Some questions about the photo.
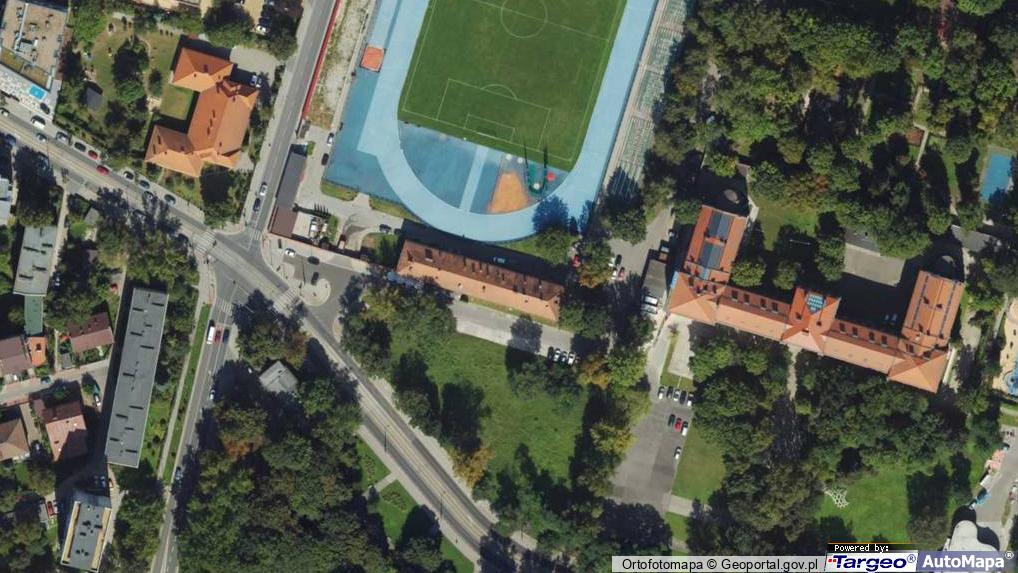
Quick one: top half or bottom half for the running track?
top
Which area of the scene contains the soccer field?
top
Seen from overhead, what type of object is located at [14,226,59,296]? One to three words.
building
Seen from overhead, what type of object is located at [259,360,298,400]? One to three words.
house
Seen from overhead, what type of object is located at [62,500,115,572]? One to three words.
building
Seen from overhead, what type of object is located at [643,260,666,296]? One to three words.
shed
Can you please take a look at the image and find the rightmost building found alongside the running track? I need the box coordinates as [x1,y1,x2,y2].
[668,207,965,393]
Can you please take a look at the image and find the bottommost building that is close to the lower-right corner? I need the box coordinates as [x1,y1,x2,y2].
[947,519,1003,573]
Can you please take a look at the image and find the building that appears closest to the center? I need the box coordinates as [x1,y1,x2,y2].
[398,240,564,320]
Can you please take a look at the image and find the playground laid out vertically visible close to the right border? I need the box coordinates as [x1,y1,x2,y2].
[993,303,1018,397]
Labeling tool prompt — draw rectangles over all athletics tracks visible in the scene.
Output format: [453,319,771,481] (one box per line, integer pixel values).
[322,0,655,244]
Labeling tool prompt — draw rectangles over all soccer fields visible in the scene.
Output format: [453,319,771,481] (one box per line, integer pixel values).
[396,0,626,172]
